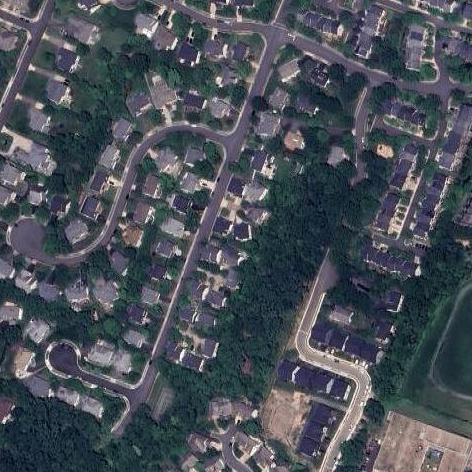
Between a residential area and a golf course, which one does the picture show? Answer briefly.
residential area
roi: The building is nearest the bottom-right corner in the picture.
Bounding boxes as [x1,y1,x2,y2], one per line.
[368,411,472,472]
